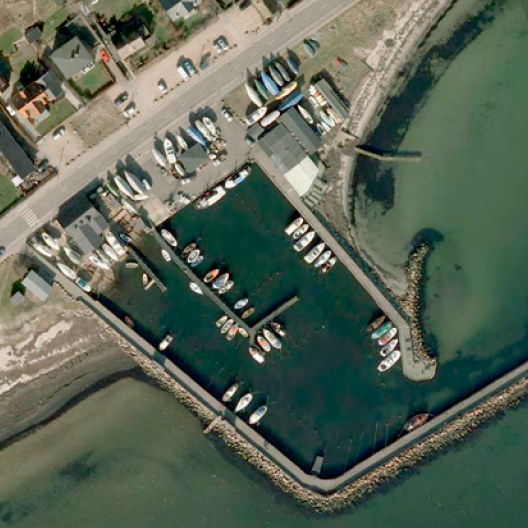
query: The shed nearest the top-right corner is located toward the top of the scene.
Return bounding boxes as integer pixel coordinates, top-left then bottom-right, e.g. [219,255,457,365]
[315,77,349,120]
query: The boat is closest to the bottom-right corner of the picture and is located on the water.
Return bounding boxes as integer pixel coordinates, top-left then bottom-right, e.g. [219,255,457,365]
[401,414,431,431]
